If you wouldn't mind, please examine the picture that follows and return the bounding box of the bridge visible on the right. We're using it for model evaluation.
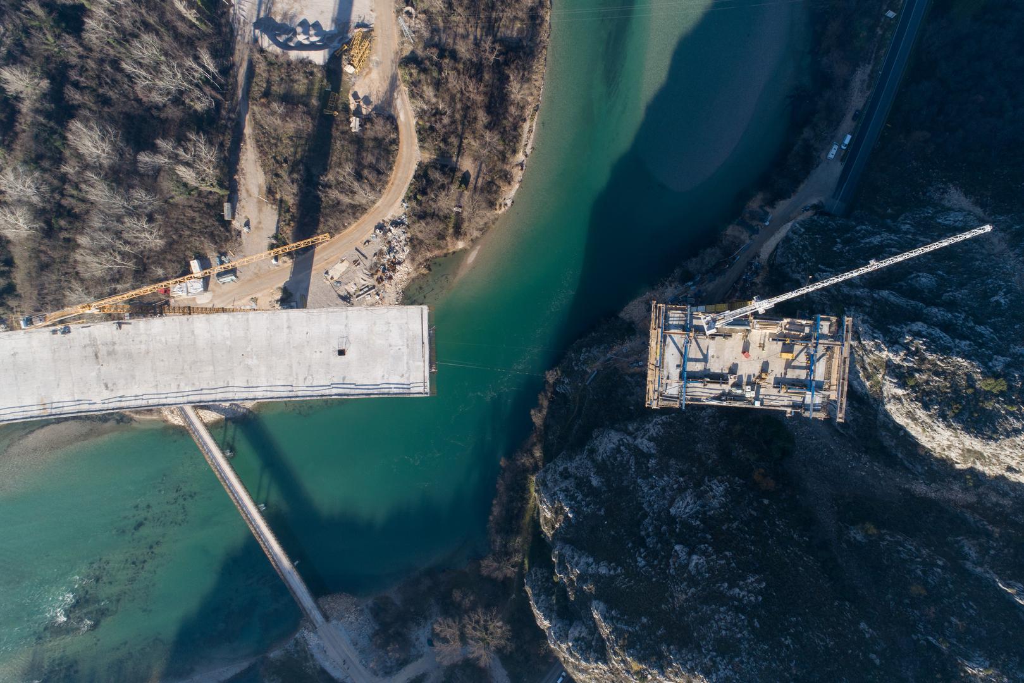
[660,310,837,423]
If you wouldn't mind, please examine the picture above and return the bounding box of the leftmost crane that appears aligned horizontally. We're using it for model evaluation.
[21,232,330,331]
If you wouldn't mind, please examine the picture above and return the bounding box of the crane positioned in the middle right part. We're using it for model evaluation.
[655,222,996,335]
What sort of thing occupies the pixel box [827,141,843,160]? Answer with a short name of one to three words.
vehicle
